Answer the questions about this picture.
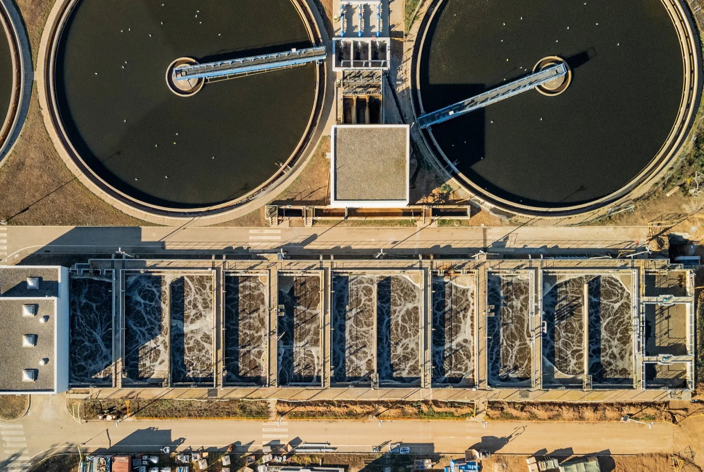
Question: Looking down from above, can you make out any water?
Yes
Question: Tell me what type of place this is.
industrial area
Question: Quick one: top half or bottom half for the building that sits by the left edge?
bottom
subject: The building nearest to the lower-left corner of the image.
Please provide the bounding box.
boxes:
[0,265,70,401]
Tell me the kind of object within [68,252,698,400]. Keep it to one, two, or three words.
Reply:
storage tank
